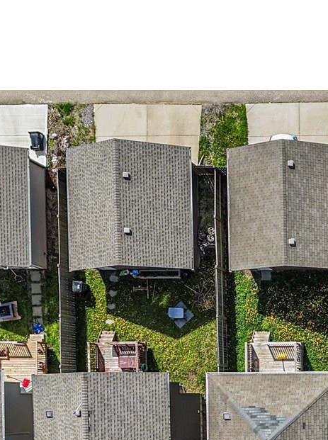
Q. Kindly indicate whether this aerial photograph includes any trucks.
No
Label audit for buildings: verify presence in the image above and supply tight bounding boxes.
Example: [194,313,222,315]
[0,145,47,270]
[226,140,328,275]
[32,370,199,440]
[65,139,201,275]
[205,370,328,440]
